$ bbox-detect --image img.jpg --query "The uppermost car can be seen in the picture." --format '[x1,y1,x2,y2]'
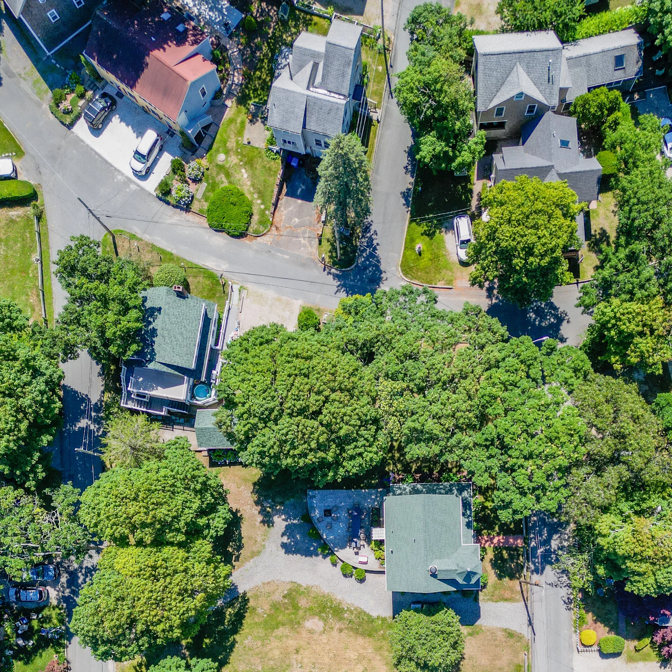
[80,90,118,132]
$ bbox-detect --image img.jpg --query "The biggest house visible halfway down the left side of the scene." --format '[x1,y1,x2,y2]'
[117,272,231,417]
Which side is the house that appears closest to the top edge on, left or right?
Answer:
left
